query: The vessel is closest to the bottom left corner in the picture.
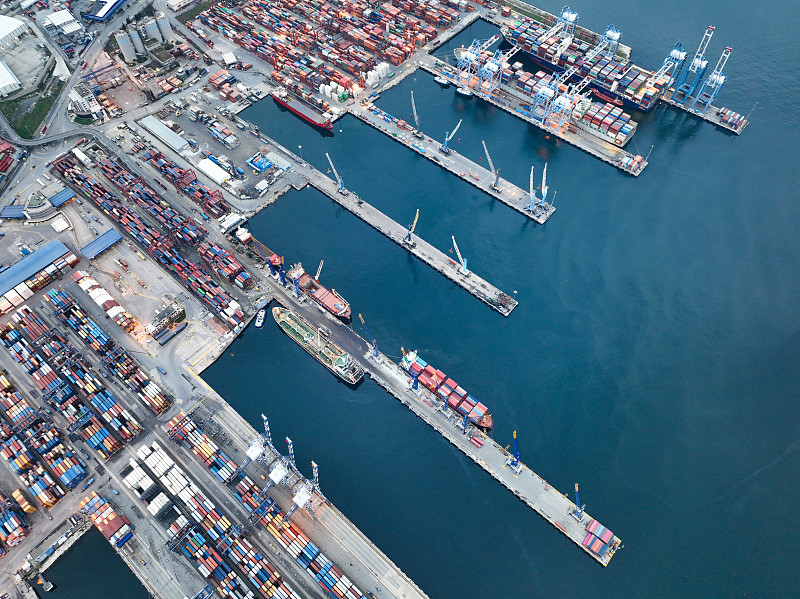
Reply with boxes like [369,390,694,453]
[252,312,266,329]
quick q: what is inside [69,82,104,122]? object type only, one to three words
building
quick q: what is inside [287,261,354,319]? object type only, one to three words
ship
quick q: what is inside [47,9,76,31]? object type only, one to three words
building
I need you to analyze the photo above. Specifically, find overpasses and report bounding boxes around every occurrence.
[0,106,131,162]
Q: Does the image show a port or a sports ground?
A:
port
